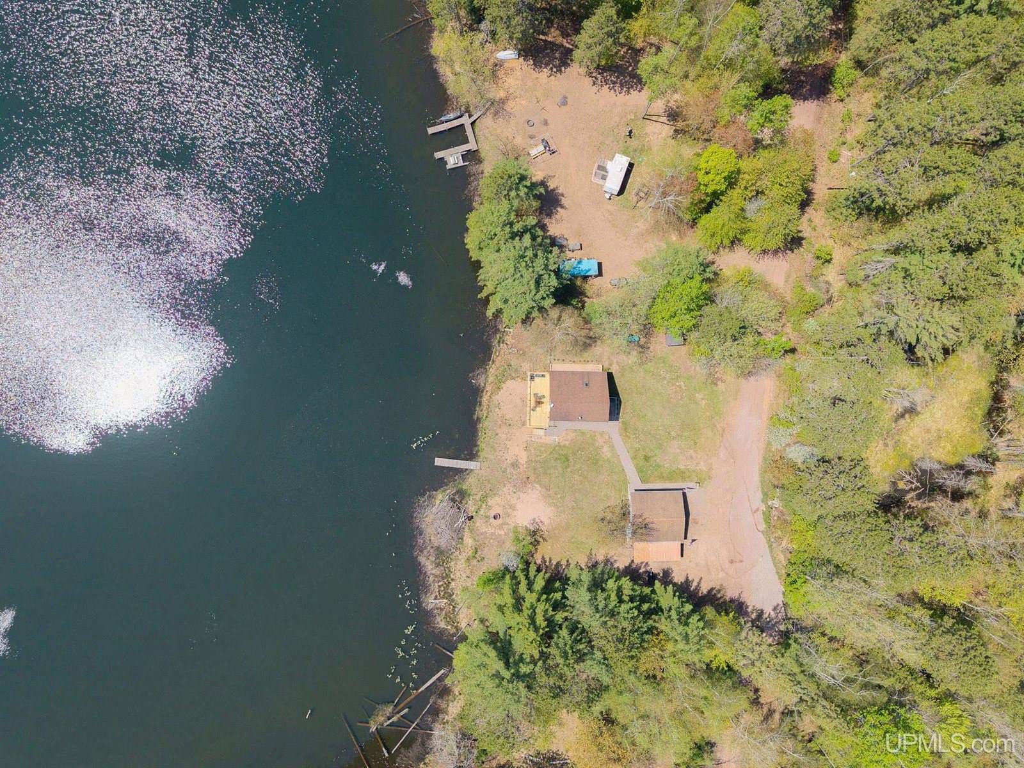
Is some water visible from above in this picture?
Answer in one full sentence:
Yes, water shows up in the scene.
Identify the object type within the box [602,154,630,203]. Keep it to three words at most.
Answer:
vehicle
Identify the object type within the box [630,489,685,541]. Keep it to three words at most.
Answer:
building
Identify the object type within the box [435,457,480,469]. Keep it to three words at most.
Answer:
pier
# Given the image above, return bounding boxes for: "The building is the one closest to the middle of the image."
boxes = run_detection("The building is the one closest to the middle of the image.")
[529,365,618,435]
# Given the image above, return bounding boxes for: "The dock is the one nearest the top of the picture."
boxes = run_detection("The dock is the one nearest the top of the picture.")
[427,113,477,160]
